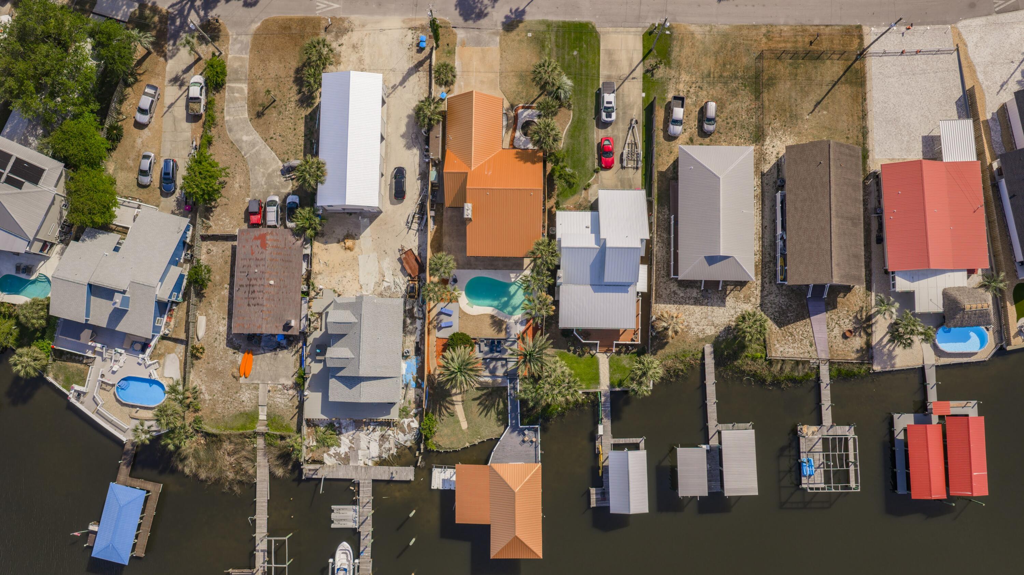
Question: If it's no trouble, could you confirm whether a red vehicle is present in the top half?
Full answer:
Yes, I can see a red vehicle in the top half.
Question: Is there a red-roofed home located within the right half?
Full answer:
Yes, looking within the right half, one can make out a red-roofed home.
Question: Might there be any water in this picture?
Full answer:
Yes, the picture does contain water.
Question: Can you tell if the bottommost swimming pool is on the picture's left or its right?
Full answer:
The bottommost swimming pool sits on the left side.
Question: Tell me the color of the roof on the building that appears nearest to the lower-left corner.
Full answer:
The roof over the building that appears nearest to the lower-left corner appears blue.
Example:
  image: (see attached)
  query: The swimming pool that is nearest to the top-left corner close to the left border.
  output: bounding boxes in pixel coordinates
[0,271,52,300]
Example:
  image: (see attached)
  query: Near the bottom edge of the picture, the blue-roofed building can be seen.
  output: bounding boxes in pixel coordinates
[83,482,155,566]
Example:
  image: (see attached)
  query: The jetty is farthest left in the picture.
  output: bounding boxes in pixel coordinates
[114,440,166,557]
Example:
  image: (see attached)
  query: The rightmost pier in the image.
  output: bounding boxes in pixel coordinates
[889,364,982,494]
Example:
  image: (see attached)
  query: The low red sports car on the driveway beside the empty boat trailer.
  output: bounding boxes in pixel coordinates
[599,137,615,169]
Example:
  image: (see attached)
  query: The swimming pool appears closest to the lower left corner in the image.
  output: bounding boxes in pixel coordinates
[115,372,171,407]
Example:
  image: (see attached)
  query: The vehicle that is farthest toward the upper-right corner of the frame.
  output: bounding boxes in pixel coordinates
[701,102,717,134]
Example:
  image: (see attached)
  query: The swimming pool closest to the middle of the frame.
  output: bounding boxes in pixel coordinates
[462,274,533,318]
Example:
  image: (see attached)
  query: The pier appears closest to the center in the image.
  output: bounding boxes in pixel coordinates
[489,377,542,464]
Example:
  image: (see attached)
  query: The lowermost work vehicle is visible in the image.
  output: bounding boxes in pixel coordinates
[407,276,421,301]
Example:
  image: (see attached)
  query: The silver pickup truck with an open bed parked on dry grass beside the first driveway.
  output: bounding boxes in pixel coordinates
[137,84,163,125]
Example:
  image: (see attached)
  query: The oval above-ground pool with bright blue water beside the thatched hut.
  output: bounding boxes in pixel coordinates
[930,324,990,354]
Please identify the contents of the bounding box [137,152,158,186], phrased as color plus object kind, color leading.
gray car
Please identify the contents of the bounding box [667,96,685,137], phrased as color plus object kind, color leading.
gray vehicle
